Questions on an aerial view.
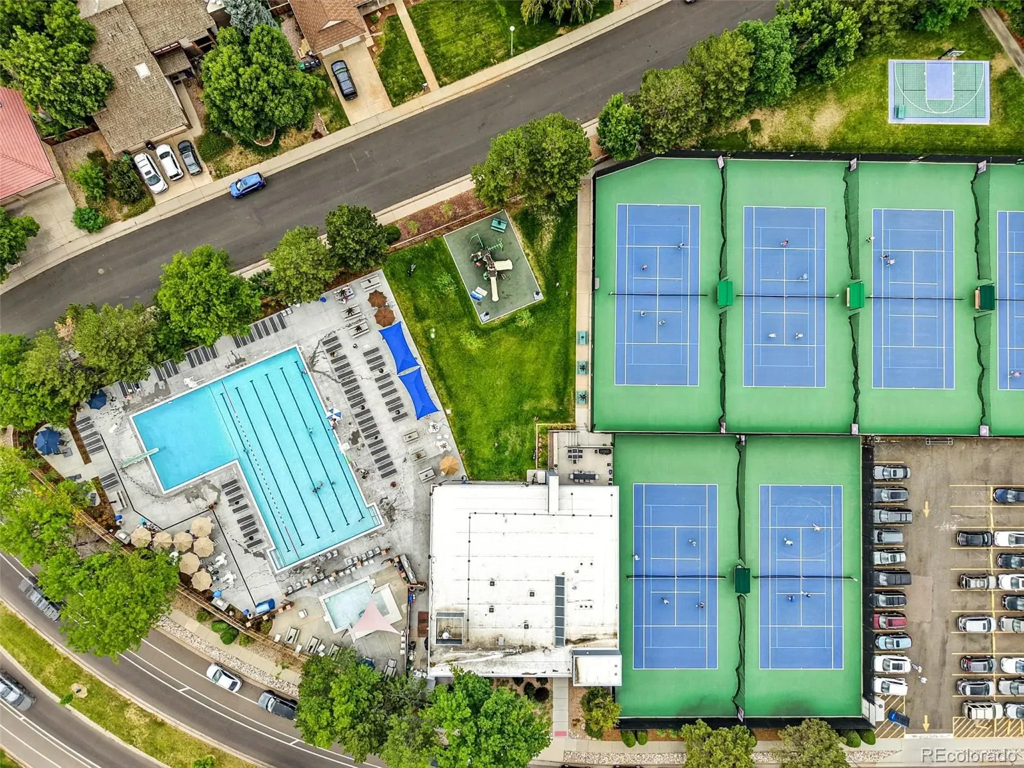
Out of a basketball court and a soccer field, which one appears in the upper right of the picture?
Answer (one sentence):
Visible in the upper right of the picture is a basketball court.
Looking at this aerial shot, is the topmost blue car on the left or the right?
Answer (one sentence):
You can find the topmost blue car on the left side of the picture.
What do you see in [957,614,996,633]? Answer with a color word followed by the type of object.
white car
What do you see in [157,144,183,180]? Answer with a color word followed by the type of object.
white car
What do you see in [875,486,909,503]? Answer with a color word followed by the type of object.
gray car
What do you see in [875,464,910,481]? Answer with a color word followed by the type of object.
gray car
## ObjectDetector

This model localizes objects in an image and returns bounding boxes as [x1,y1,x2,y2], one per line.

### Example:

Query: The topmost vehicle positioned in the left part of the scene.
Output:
[332,59,357,101]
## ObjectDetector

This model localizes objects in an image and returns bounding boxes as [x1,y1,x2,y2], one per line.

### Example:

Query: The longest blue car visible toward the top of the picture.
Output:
[230,173,268,197]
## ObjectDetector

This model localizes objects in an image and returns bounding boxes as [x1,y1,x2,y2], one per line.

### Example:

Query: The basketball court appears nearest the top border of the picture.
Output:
[888,59,990,125]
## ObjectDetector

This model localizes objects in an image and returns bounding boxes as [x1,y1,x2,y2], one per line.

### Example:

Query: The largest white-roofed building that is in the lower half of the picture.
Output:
[431,472,622,687]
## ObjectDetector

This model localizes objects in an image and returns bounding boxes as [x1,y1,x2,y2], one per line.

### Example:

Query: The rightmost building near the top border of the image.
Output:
[291,0,397,62]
